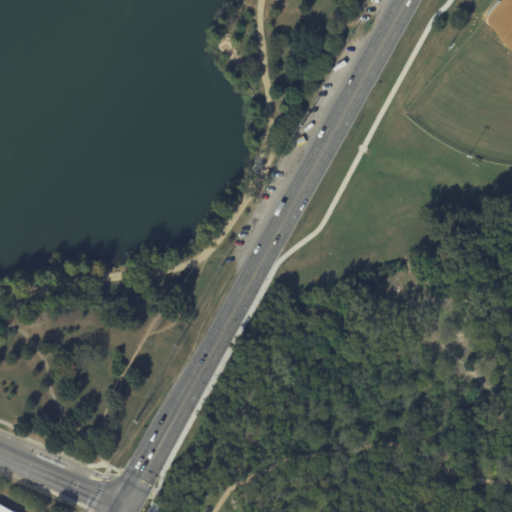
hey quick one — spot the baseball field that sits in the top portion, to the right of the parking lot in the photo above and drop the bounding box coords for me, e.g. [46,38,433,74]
[406,0,512,164]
